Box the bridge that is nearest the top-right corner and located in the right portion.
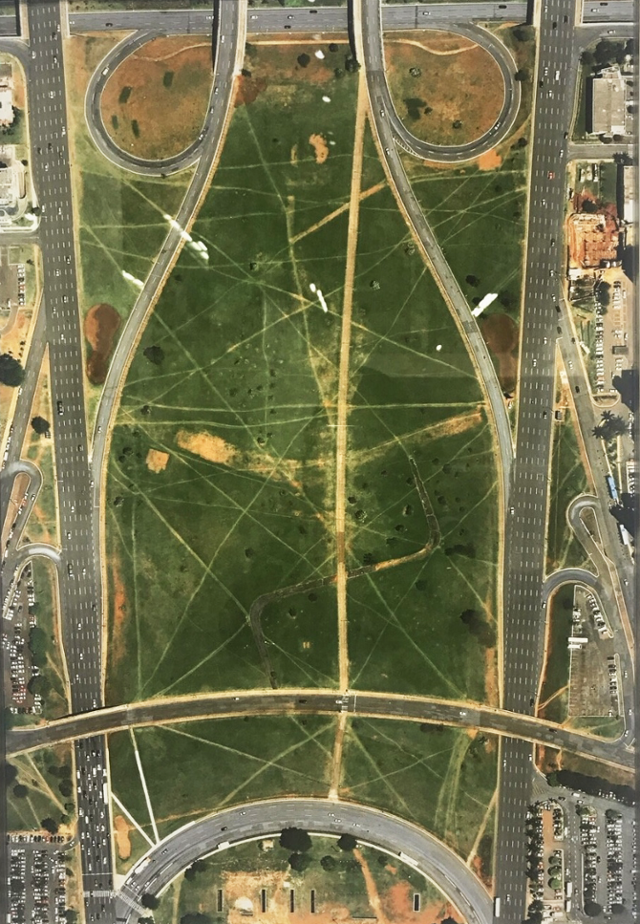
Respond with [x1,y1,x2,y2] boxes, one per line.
[534,0,582,26]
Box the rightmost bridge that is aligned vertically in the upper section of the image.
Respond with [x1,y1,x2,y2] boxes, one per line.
[354,0,385,72]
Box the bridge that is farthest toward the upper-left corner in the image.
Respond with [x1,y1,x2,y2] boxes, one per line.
[20,0,70,38]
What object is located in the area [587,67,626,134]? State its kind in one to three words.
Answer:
building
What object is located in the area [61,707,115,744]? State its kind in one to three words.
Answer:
bridge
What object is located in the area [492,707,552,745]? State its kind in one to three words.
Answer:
bridge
